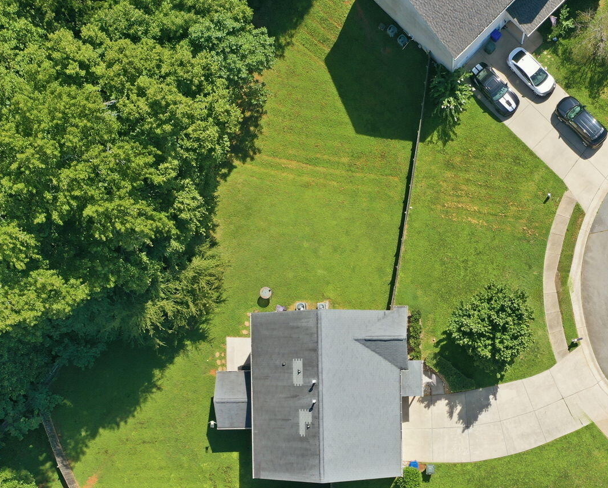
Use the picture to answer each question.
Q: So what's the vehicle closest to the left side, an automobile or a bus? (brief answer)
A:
automobile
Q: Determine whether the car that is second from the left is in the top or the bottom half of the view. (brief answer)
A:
top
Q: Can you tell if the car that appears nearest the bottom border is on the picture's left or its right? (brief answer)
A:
right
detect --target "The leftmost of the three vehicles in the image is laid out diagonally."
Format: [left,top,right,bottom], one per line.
[468,59,520,120]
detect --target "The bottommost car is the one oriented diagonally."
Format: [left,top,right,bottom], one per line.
[556,92,608,153]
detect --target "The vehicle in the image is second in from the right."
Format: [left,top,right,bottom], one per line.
[508,42,558,100]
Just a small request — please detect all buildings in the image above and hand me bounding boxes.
[213,304,425,482]
[375,0,562,72]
